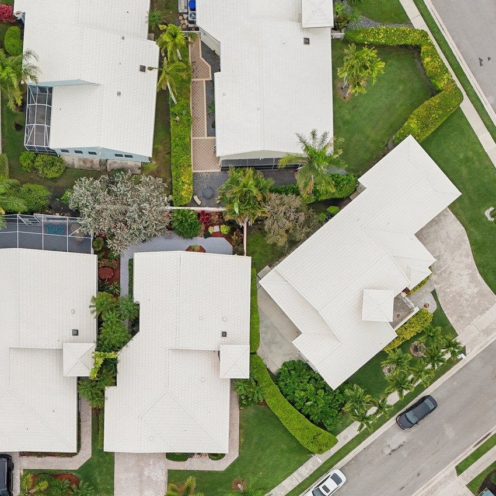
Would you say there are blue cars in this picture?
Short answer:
No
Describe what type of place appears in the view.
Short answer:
residential area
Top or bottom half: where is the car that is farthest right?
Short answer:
bottom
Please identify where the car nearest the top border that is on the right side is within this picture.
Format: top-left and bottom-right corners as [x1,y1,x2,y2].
[393,393,441,432]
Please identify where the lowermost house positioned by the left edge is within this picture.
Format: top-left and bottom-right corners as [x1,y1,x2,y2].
[0,247,97,453]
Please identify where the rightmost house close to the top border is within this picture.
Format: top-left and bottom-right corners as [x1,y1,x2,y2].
[196,0,334,166]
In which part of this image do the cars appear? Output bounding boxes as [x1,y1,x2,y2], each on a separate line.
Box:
[301,468,349,496]
[0,455,13,496]
[393,393,441,432]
